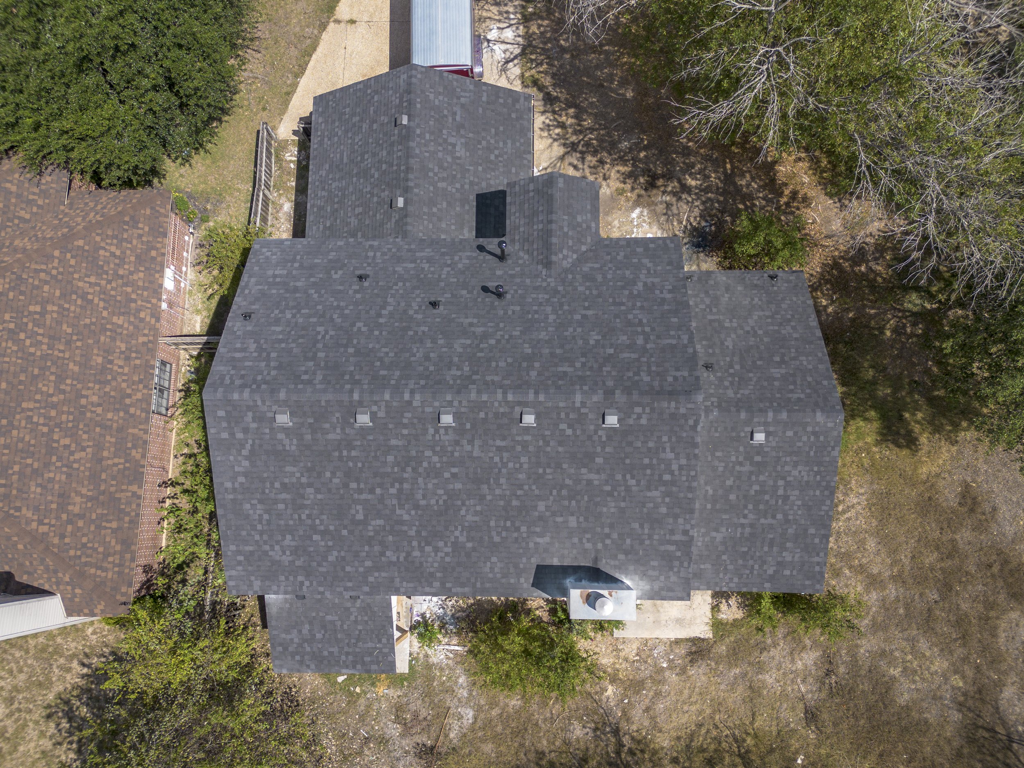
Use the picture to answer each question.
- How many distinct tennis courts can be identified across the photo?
0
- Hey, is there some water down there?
No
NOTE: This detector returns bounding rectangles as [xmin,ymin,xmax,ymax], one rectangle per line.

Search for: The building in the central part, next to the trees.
[202,66,843,673]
